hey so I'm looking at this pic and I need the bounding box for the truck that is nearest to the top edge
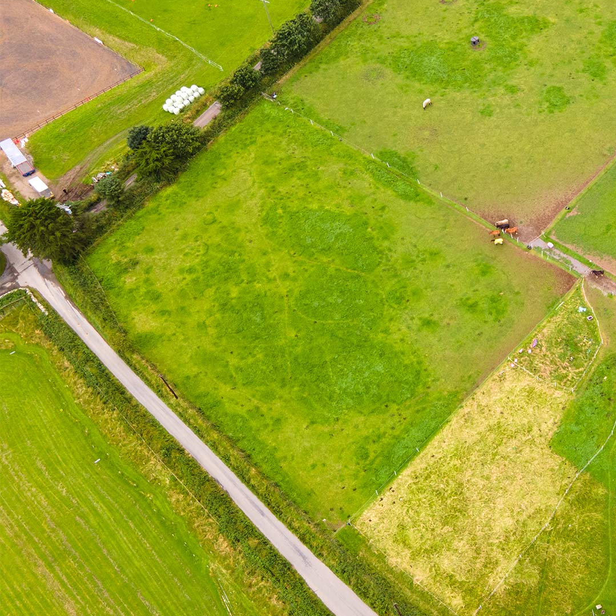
[0,139,37,180]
